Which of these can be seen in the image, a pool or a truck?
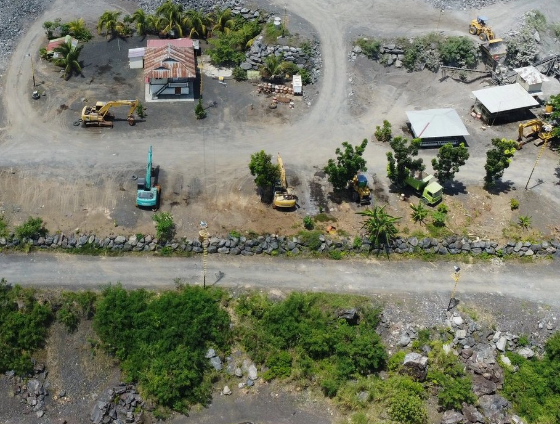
truck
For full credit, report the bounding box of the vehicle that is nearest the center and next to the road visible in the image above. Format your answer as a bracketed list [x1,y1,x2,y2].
[271,171,301,213]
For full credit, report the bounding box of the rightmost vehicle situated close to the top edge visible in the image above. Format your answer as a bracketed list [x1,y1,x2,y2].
[461,16,507,44]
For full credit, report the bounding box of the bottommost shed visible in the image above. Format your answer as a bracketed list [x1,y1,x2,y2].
[404,107,470,151]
